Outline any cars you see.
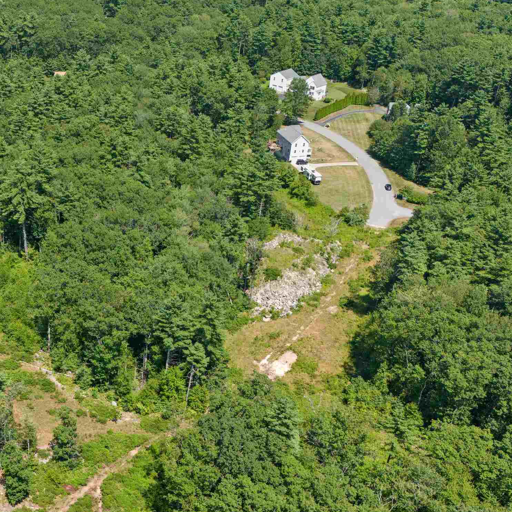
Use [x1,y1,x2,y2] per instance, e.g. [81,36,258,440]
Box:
[383,184,394,190]
[295,157,308,164]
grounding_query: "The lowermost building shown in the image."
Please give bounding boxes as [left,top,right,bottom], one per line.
[277,125,313,161]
